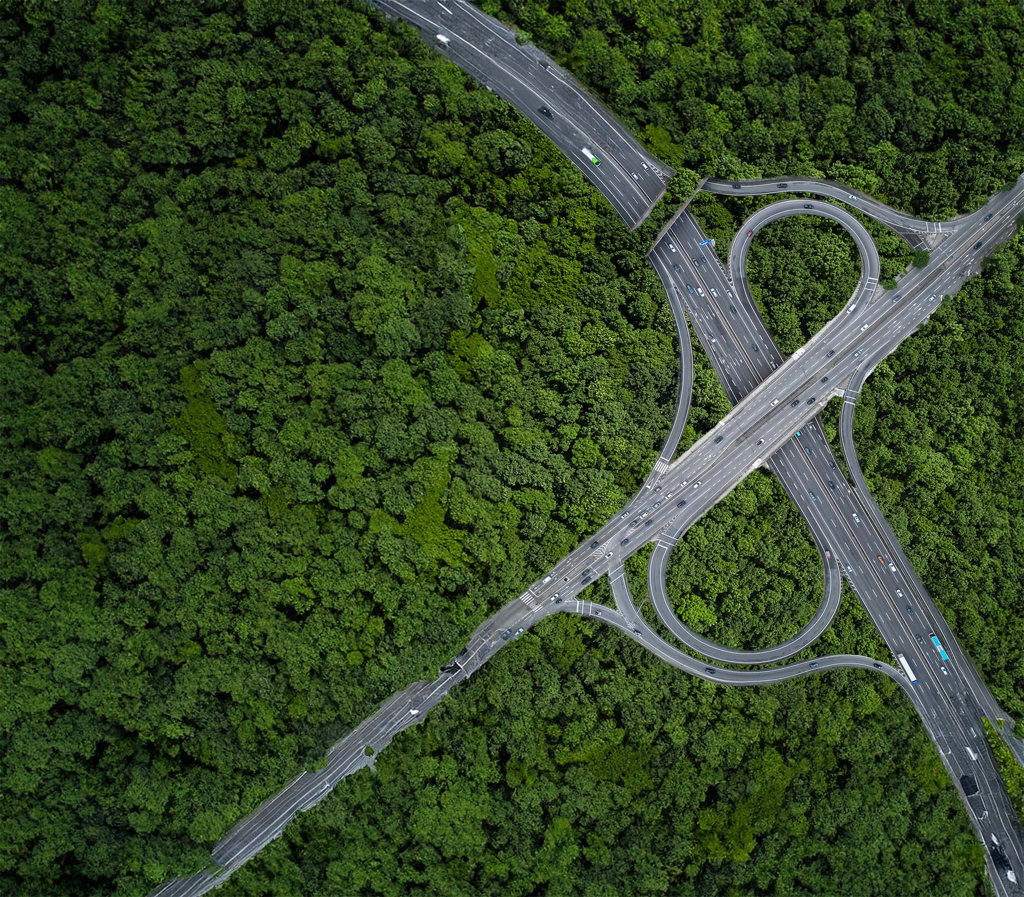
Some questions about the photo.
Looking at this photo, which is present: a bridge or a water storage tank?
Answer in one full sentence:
I can see a bridge in this picture.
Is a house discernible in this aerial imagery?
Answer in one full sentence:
No, this view has no house in it.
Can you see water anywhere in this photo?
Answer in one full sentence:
No, there is no water in the image.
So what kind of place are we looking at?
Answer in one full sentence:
What you see here is a forest.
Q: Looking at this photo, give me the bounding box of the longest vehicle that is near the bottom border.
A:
[995,847,1014,884]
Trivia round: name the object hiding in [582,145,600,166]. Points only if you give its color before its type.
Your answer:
white vehicle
